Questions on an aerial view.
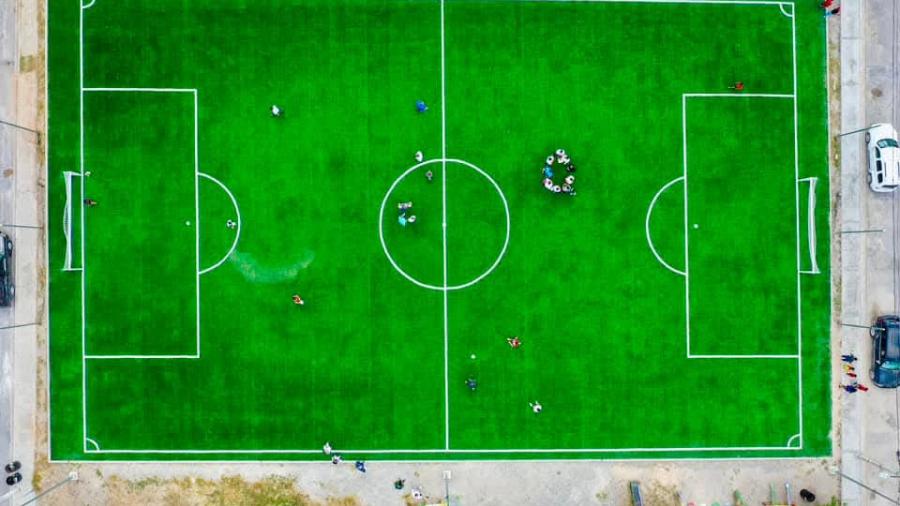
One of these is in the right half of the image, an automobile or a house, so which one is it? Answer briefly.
automobile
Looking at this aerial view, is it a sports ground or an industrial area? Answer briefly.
sports ground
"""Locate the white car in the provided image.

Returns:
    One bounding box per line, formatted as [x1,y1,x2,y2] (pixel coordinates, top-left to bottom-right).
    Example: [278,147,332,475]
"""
[866,125,900,194]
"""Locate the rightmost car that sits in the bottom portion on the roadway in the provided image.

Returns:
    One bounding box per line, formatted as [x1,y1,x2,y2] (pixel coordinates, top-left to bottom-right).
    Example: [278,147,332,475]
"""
[867,314,900,387]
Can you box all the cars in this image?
[0,231,13,307]
[866,125,900,194]
[867,314,900,387]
